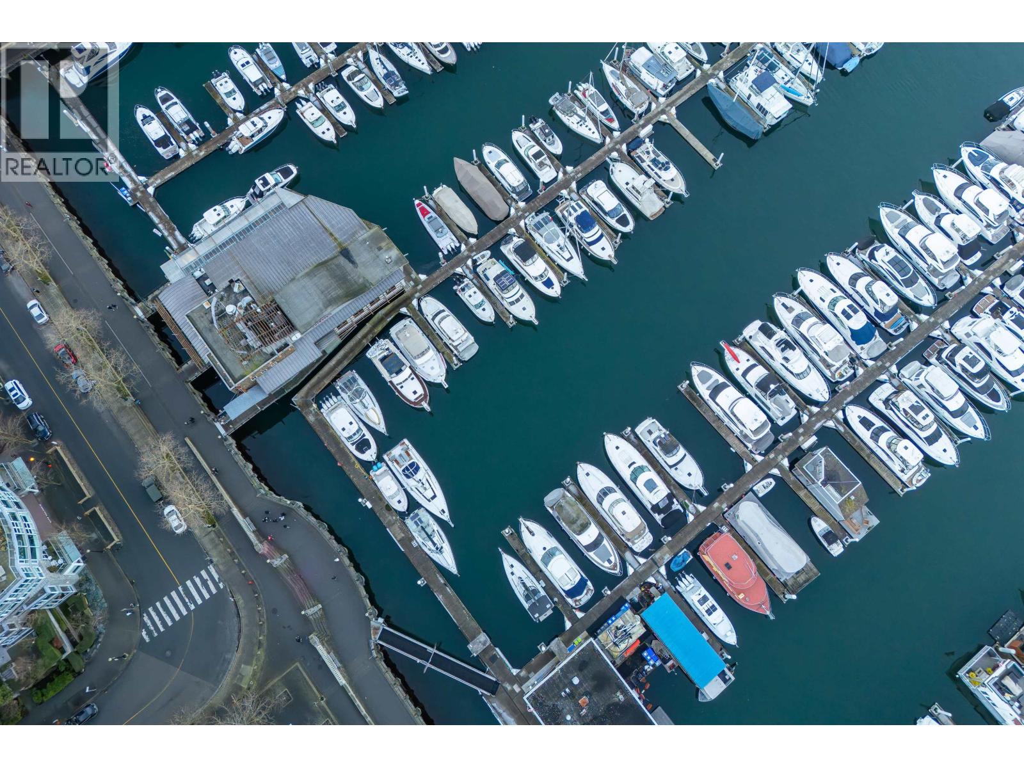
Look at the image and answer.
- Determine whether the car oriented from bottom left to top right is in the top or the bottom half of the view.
bottom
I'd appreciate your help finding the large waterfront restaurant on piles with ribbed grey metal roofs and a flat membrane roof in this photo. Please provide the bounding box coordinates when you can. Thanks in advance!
[145,187,422,426]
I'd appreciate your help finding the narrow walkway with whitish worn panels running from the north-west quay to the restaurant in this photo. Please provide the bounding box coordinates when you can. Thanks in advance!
[44,59,192,254]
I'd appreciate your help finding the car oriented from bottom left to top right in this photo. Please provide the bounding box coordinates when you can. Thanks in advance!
[66,702,97,727]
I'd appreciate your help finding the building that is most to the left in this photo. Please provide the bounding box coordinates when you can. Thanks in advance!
[0,457,89,663]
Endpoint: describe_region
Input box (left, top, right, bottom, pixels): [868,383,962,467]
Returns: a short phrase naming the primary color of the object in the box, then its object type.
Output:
white boat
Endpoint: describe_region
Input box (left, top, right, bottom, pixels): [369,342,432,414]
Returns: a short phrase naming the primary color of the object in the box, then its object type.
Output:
white boat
